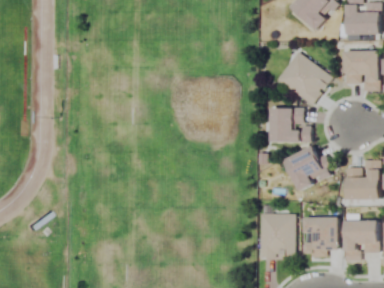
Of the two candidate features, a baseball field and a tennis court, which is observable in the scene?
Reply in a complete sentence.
The image shows a baseball field.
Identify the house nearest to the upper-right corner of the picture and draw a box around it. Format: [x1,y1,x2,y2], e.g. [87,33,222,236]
[343,0,384,41]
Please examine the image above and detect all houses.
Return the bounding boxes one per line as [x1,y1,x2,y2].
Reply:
[342,158,384,206]
[284,148,333,191]
[268,108,312,144]
[342,213,382,262]
[302,216,340,258]
[342,50,382,92]
[279,51,335,105]
[343,0,384,41]
[290,0,342,31]
[260,214,298,262]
